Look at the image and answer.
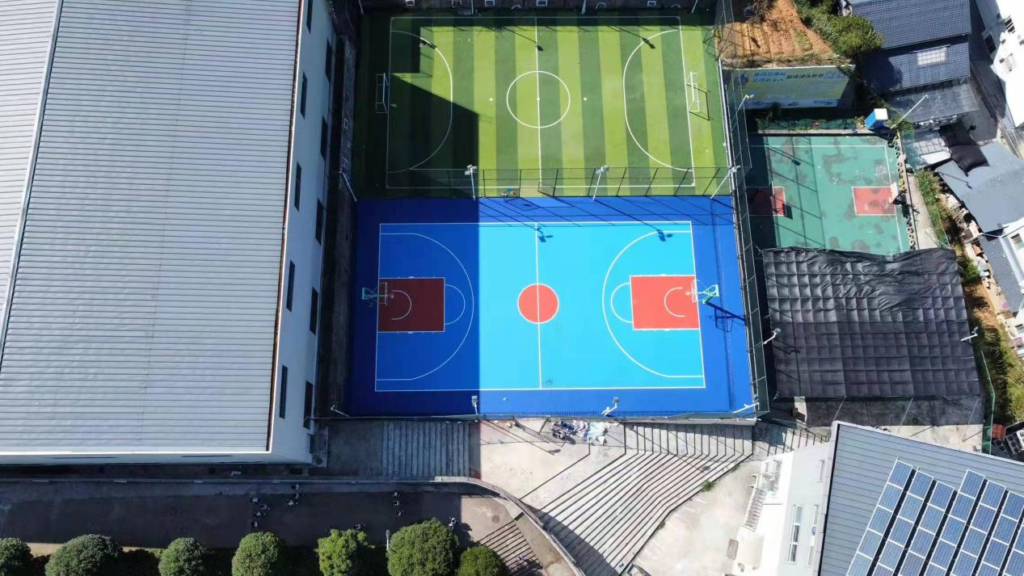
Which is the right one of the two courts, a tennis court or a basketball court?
basketball court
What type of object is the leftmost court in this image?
basketball court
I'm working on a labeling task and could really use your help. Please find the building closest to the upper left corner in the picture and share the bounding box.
[0,0,336,467]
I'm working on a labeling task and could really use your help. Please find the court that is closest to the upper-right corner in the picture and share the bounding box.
[735,135,908,338]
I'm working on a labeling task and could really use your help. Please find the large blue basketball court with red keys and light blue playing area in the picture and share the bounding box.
[348,195,751,416]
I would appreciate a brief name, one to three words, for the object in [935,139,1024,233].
shed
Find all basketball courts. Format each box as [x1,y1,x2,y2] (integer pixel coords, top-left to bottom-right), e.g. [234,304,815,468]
[735,135,908,338]
[348,195,751,416]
